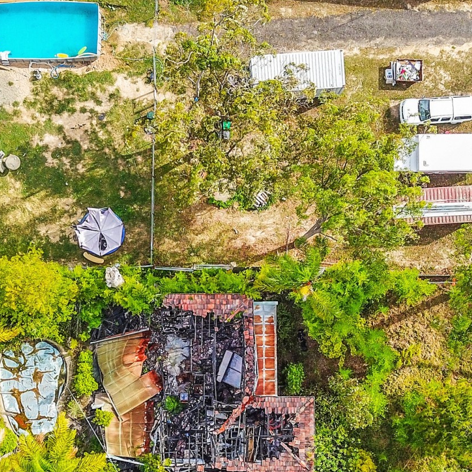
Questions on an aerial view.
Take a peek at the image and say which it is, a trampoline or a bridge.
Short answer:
trampoline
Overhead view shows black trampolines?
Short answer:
No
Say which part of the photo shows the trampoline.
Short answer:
left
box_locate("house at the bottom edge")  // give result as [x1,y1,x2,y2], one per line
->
[141,294,316,472]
